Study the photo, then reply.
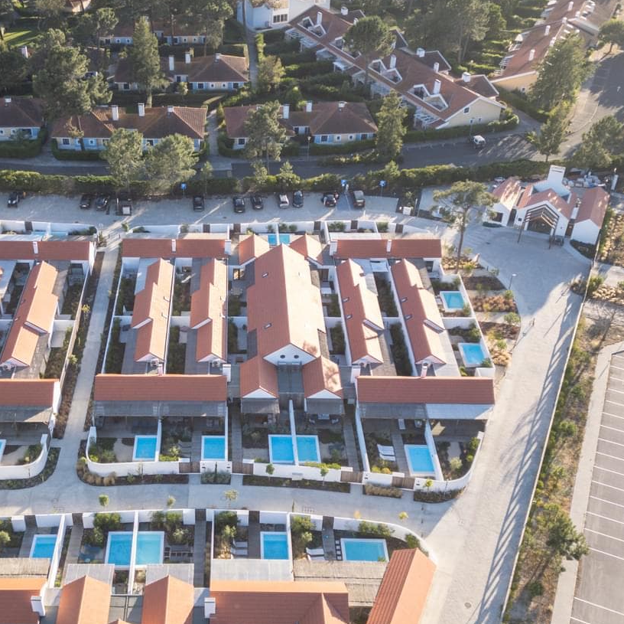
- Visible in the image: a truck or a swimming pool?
swimming pool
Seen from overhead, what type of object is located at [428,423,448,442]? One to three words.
umbrella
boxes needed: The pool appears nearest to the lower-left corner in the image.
[27,536,59,570]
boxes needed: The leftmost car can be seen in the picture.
[4,190,24,207]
